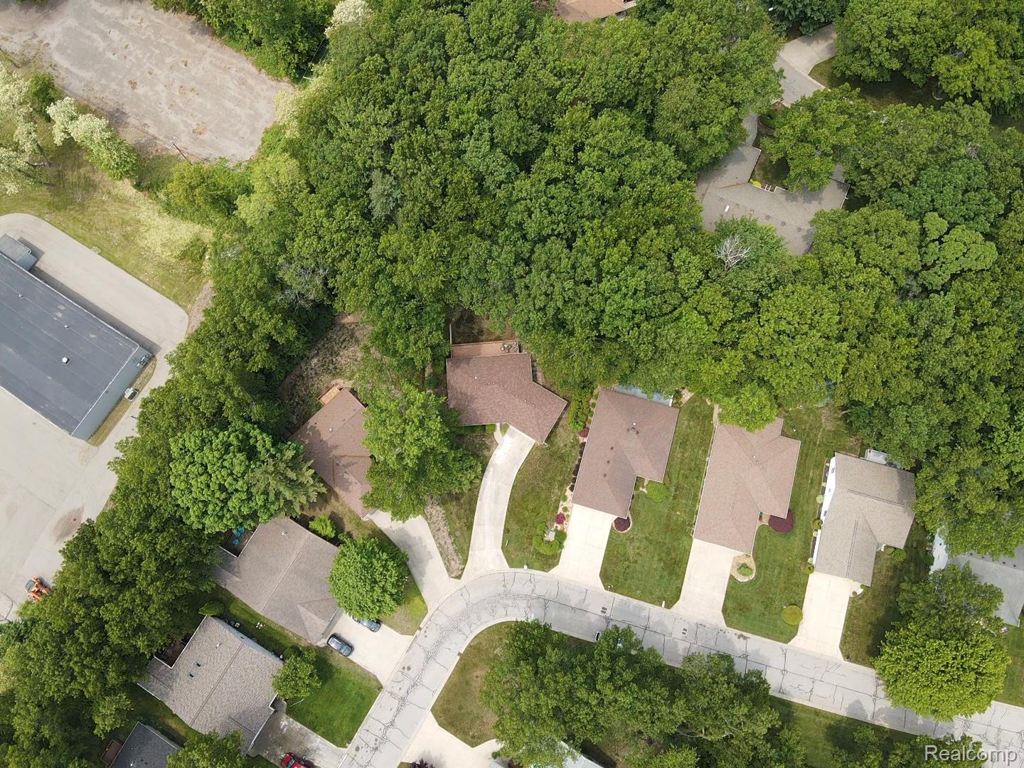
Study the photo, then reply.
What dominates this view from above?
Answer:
trees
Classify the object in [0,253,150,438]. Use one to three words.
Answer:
warehouse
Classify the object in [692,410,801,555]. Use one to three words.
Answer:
house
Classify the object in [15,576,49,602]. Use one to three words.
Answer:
work vehicle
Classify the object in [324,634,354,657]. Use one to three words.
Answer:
car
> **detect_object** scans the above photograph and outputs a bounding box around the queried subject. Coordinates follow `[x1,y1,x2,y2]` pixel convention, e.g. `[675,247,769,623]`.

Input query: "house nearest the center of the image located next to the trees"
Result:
[446,353,568,443]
